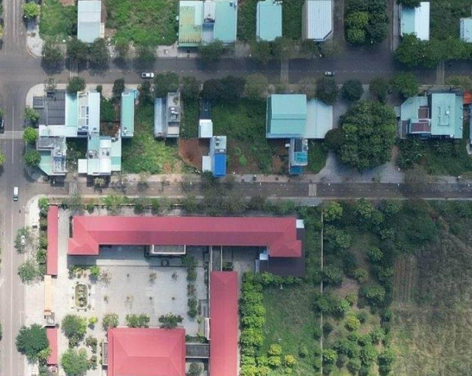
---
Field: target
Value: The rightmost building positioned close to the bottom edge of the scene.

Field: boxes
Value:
[203,270,238,376]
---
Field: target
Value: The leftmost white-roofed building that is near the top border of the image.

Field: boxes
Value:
[75,0,105,44]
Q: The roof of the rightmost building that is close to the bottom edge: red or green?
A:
red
